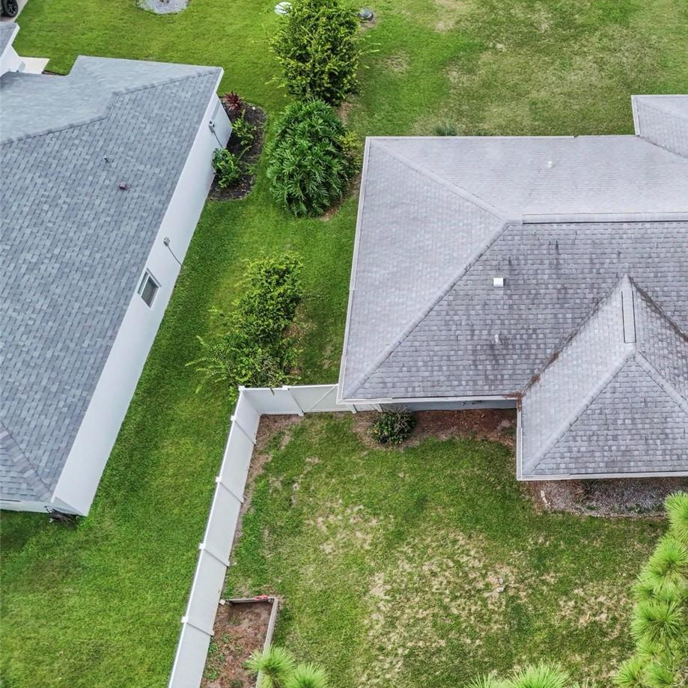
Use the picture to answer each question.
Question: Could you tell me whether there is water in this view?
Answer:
No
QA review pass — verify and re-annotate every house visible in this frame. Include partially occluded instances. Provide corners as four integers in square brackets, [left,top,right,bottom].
[0,23,231,515]
[338,94,688,487]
